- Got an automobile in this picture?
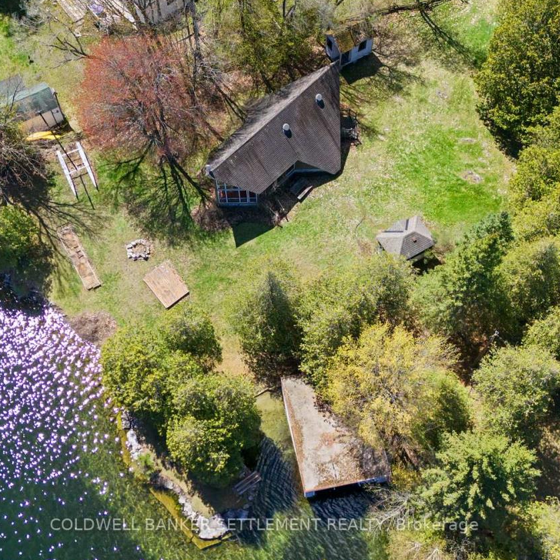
No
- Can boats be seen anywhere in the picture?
Yes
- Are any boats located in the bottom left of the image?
No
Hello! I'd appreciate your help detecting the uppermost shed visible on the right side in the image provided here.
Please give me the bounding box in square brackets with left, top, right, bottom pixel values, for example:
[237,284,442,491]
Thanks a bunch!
[324,16,378,69]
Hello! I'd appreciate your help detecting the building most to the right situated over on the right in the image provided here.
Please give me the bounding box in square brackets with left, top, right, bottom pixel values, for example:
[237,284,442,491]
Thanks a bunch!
[380,215,434,266]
